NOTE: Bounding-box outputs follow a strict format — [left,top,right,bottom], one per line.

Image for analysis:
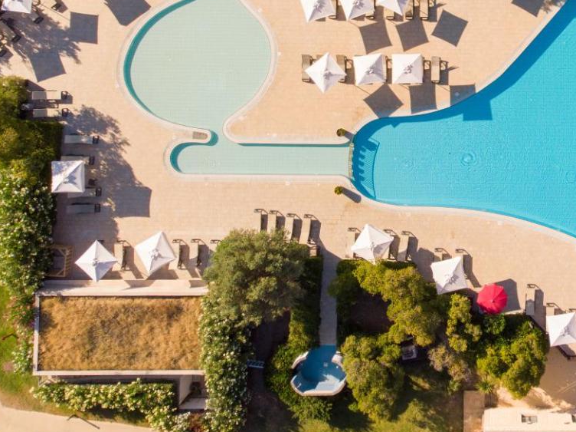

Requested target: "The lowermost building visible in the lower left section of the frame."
[33,281,215,374]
